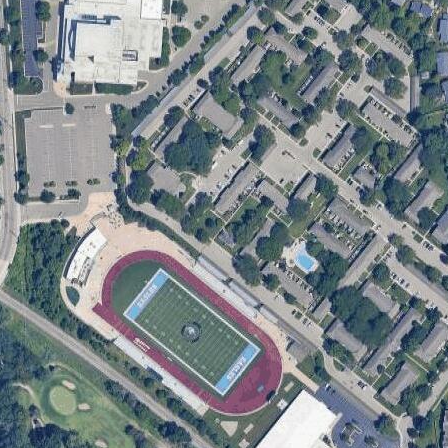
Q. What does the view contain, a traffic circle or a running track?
running track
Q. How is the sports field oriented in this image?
on a diagonal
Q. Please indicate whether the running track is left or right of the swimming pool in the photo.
to the left of it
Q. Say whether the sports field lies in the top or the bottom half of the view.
bottom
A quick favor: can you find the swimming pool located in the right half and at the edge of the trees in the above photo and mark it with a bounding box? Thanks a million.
[282,239,321,271]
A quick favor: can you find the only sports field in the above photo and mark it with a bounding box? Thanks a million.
[111,259,268,402]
